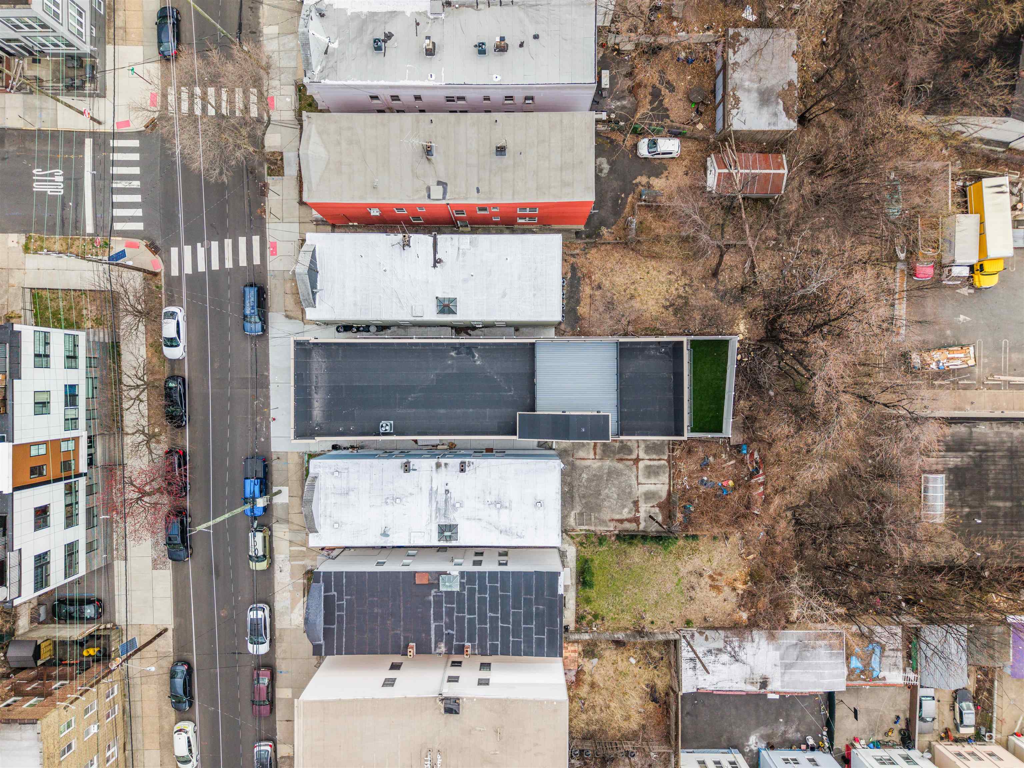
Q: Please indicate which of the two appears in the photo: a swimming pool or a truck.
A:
truck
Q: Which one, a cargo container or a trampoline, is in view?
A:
cargo container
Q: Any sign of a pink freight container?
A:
No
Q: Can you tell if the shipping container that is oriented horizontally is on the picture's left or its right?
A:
right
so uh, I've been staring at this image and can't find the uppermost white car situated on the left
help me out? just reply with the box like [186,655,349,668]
[160,306,188,359]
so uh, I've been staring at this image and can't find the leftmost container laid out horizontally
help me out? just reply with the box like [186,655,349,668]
[906,344,980,372]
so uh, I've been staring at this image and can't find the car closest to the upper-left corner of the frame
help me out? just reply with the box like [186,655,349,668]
[155,7,183,61]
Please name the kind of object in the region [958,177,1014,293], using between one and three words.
truck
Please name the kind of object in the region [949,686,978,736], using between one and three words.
car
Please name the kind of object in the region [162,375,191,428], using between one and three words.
car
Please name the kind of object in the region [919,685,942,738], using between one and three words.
truck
